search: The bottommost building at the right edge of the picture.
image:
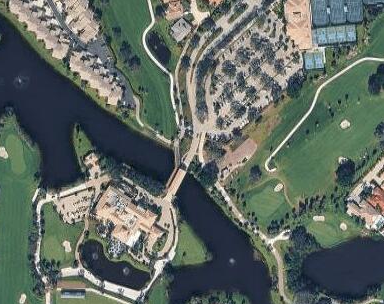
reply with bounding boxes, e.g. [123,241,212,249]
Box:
[348,201,383,229]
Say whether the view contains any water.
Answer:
Yes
